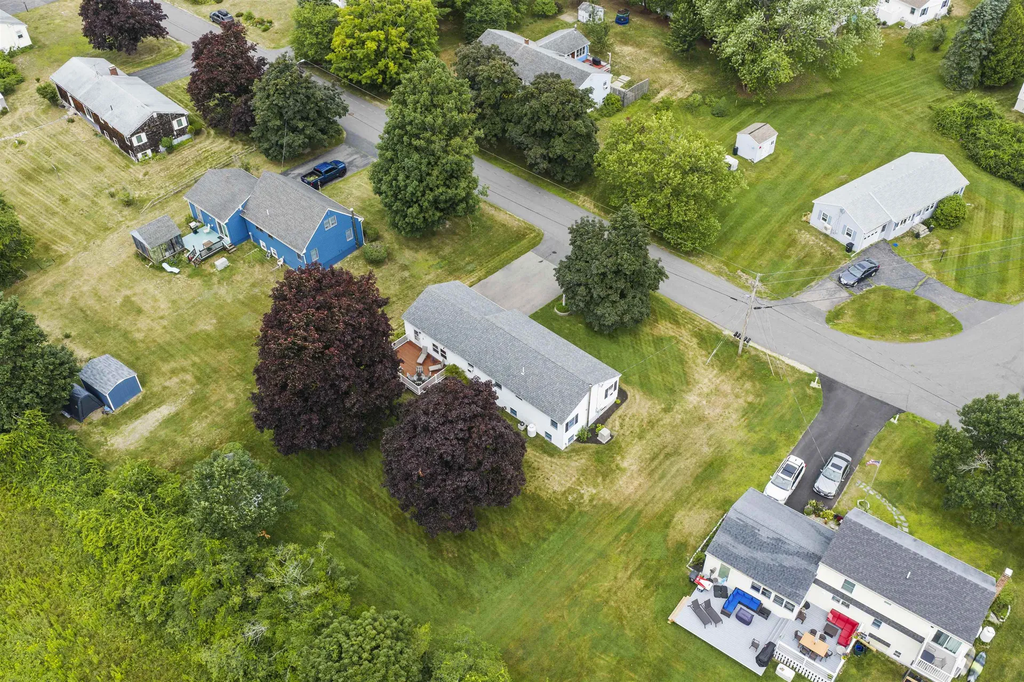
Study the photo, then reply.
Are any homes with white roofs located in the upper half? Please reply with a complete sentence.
Yes, a home with a white roof can be seen in the upper half.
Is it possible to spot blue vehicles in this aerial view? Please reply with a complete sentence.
Yes, there's a blue vehicle down there.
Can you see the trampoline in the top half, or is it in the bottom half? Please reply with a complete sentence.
The trampoline is in the top half of the image.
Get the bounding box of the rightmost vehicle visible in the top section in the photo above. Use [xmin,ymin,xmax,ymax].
[838,258,882,286]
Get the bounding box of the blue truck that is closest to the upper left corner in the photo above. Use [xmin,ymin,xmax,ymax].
[299,160,347,187]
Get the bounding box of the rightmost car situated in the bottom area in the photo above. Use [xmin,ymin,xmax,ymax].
[815,449,856,499]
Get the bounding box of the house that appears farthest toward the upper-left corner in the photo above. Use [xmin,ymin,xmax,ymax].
[0,4,33,54]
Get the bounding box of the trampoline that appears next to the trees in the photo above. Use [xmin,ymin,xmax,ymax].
[612,4,634,27]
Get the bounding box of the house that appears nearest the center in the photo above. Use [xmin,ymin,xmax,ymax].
[374,279,624,450]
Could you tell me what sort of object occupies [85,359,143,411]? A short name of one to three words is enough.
shed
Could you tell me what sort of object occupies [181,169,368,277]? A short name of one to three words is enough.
house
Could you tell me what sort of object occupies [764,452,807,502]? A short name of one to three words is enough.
car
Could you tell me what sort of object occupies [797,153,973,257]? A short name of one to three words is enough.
house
